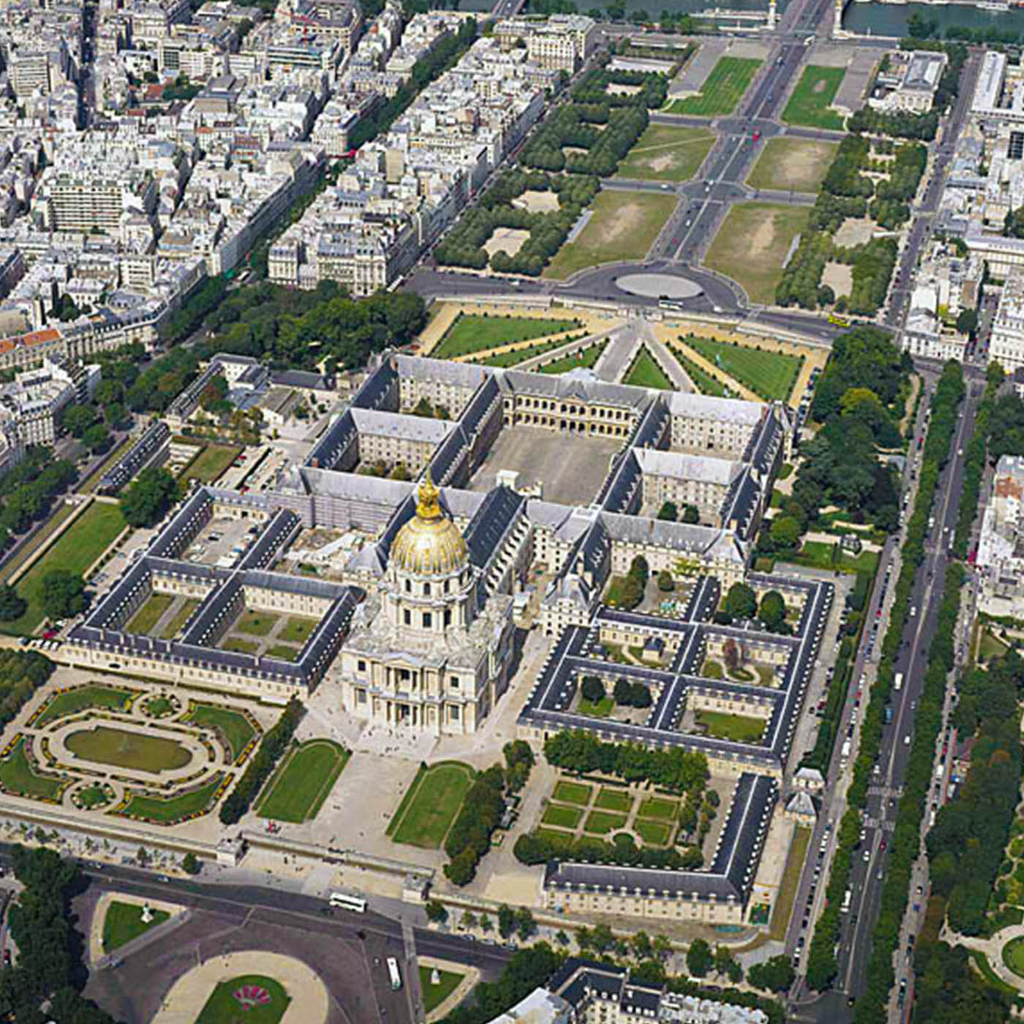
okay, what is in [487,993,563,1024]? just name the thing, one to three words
house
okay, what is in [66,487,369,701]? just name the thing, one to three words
building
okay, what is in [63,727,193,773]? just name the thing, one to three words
pond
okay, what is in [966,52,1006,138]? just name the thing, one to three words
house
